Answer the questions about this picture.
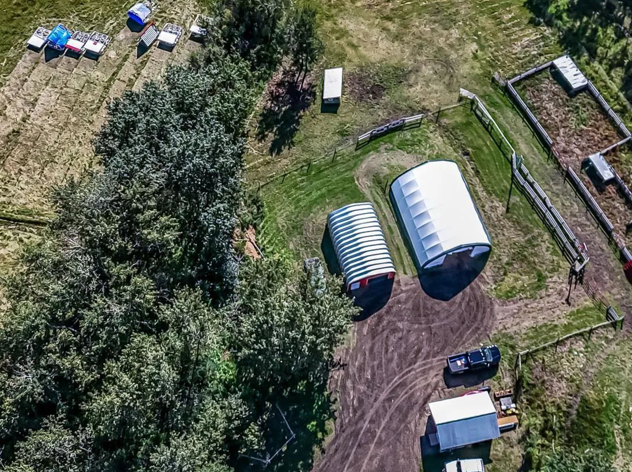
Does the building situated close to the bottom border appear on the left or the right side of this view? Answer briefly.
right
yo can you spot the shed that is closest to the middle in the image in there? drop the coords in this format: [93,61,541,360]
[333,205,394,291]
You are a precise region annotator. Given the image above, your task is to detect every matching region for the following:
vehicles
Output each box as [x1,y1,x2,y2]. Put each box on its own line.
[440,458,487,472]
[444,347,504,376]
